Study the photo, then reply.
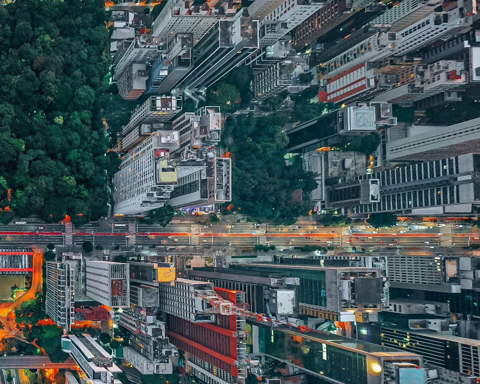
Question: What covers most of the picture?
buildings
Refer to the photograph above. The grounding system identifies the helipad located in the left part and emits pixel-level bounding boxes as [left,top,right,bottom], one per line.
[157,267,176,282]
